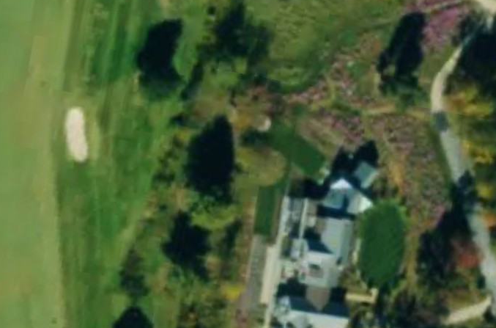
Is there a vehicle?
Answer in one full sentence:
No, I can see no vehicle in this picture.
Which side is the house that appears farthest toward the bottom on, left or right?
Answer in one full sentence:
The house that appears farthest toward the bottom is on the right side of the image.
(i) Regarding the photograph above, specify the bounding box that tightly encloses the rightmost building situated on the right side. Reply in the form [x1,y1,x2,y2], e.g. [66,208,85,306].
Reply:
[353,162,379,190]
